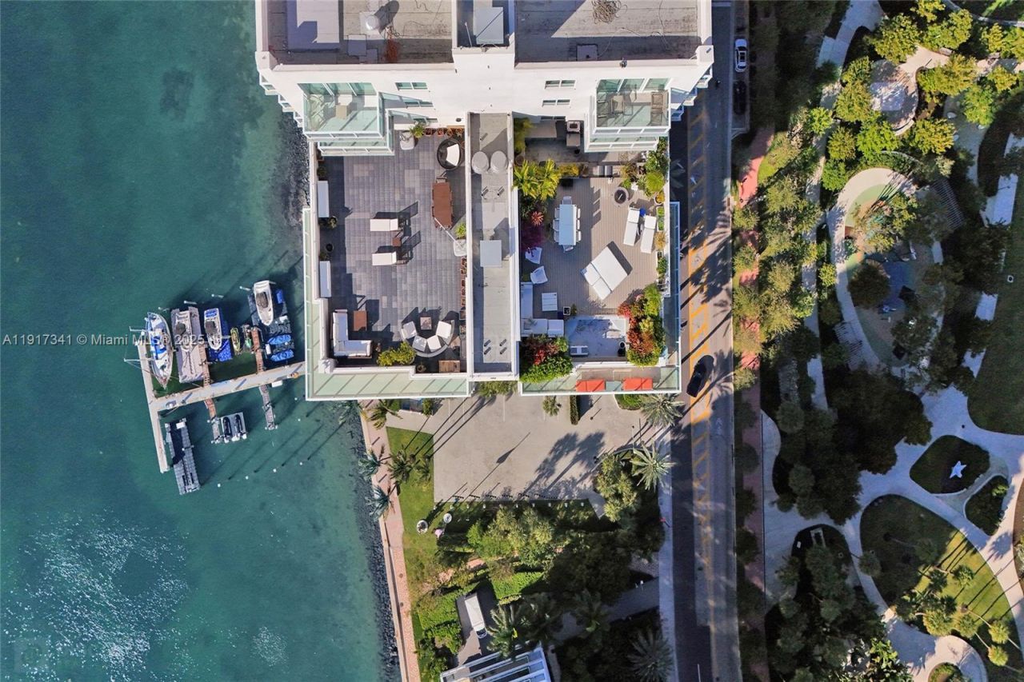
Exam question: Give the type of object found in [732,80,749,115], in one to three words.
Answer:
car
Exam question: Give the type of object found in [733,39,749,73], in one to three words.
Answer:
car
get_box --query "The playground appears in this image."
[827,167,942,375]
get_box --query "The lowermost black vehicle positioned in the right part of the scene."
[686,357,713,395]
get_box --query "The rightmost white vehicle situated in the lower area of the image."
[463,590,488,637]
